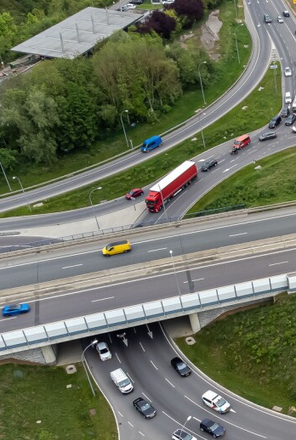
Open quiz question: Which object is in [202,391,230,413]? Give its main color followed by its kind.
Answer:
white car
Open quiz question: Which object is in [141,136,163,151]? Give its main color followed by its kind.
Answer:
blue vehicle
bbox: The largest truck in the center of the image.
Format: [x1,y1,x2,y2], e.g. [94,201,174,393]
[146,161,196,208]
